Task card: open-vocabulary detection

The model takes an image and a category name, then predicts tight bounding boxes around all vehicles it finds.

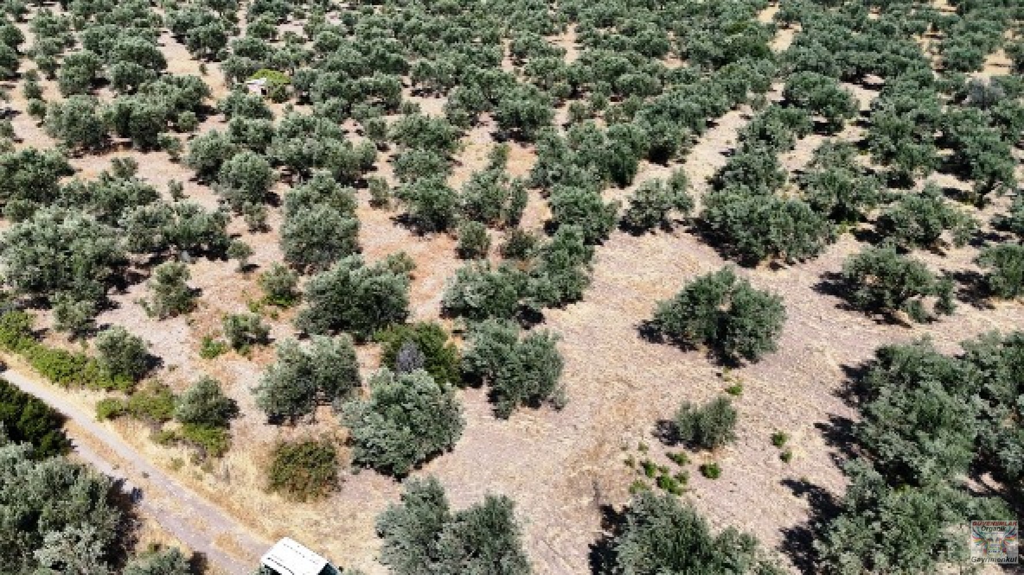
[260,538,341,575]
